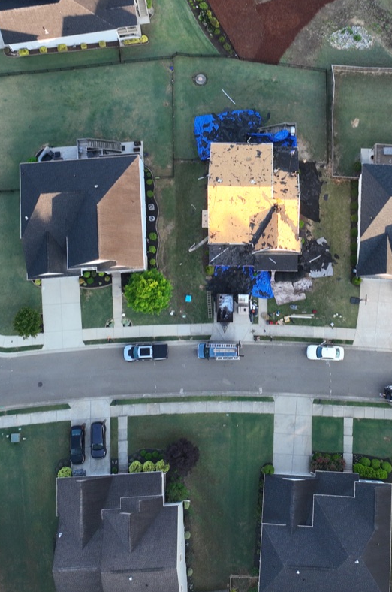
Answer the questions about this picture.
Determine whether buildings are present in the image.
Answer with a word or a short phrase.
Yes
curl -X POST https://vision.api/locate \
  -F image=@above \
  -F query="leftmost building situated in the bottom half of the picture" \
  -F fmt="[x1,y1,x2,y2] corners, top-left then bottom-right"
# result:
[52,472,183,592]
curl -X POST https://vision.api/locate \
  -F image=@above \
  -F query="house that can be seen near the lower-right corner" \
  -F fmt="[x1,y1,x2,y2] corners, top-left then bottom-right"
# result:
[258,471,392,592]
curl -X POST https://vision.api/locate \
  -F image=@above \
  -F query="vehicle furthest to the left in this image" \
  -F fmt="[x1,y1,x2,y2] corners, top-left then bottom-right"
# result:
[69,424,87,466]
